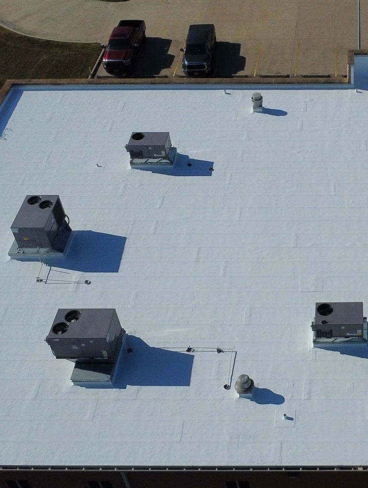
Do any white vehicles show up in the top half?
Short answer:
No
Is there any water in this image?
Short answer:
No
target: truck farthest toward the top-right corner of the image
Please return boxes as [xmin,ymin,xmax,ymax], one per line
[177,24,219,76]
